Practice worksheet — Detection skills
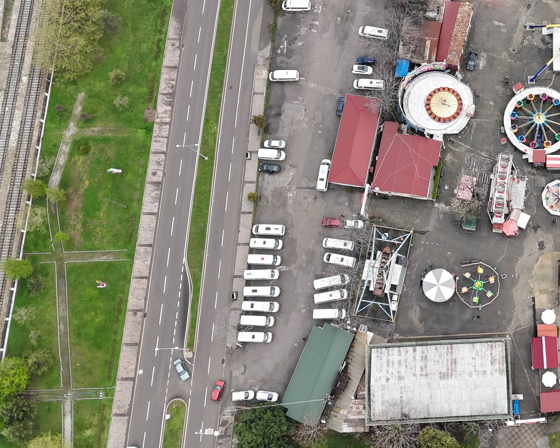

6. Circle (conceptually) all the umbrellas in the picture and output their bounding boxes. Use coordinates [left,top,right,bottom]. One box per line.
[541,309,557,324]
[502,219,519,235]
[542,371,557,387]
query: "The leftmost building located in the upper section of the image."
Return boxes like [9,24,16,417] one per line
[329,93,382,188]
